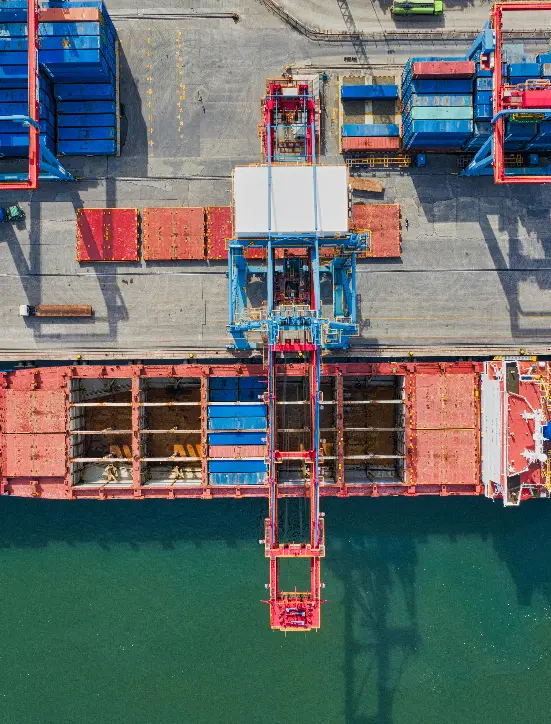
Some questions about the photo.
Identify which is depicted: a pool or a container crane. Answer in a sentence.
This aerial view contains a container crane.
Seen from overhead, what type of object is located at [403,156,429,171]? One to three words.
work vehicle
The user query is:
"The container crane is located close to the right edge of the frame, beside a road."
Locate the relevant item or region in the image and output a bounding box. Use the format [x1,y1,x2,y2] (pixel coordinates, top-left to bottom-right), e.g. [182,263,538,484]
[459,4,551,186]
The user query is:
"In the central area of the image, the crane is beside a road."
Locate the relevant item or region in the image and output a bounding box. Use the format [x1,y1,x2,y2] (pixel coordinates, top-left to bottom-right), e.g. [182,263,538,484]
[221,74,374,637]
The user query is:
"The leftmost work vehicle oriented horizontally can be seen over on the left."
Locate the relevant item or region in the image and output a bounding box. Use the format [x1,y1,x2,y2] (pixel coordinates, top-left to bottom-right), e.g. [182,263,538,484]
[2,208,29,221]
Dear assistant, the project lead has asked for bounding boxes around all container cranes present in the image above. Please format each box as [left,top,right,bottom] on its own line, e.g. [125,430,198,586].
[0,0,72,194]
[459,4,551,186]
[221,74,374,637]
